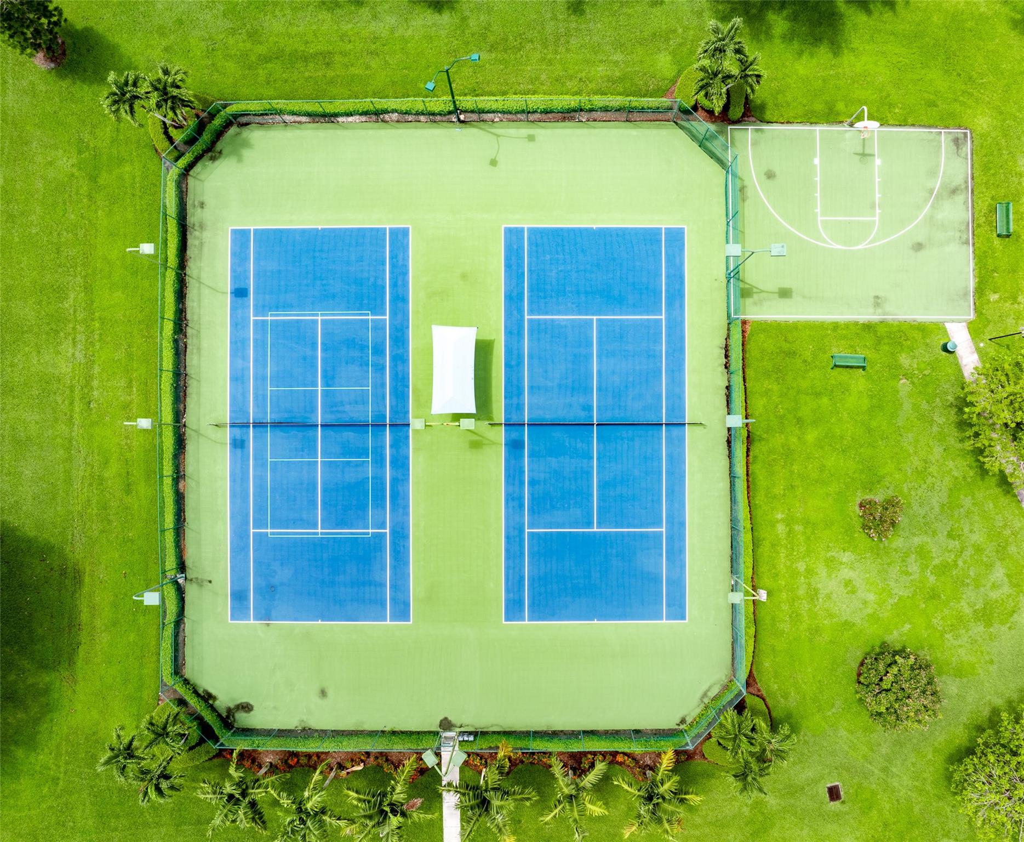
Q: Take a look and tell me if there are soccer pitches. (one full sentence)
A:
No, the scene contains no soccer pitch.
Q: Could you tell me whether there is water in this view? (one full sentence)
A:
No, water can't be seen anywhere here.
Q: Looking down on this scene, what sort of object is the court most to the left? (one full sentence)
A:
I'd identify the court most to the left as a tennis court.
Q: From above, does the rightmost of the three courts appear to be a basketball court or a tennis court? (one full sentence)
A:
What you see as the rightmost of the three courts is a basketball court.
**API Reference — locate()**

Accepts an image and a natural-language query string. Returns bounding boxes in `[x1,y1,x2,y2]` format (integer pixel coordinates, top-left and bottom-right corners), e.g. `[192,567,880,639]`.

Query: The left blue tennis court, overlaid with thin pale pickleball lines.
[229,227,411,623]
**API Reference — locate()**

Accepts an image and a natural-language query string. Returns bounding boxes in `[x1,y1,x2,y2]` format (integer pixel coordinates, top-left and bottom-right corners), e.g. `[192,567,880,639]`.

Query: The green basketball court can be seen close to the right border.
[675,122,976,322]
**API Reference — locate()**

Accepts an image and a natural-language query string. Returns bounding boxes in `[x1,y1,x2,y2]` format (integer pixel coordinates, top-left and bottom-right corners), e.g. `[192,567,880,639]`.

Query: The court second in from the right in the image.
[503,226,687,622]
